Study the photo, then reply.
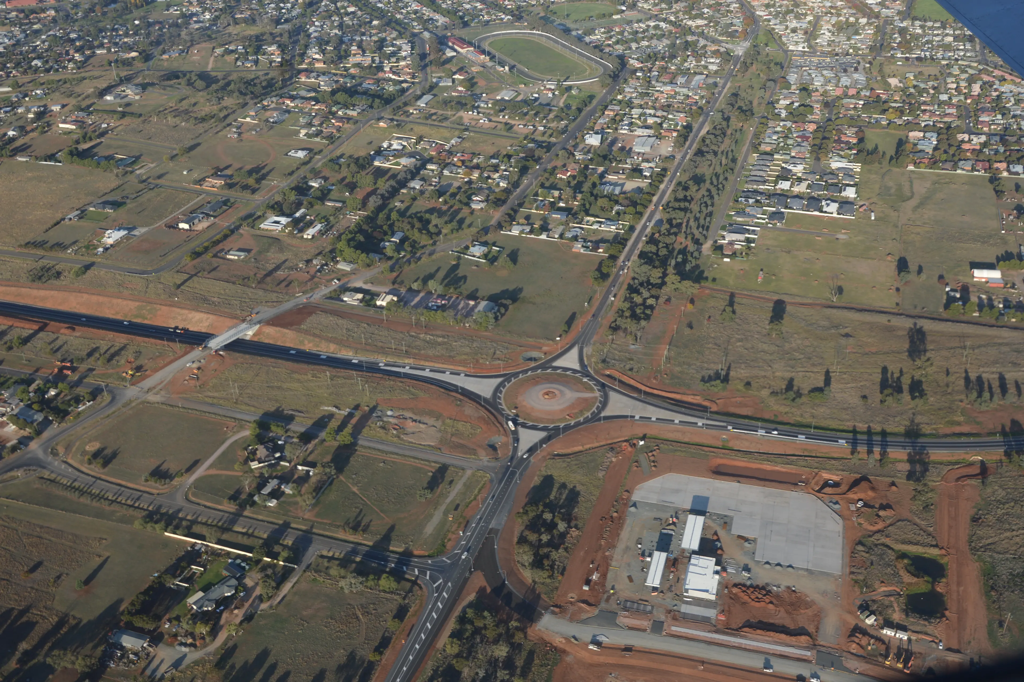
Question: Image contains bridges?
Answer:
Yes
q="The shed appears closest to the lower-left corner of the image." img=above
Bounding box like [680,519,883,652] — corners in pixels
[109,628,154,656]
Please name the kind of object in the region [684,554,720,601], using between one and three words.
building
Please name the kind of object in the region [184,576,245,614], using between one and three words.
house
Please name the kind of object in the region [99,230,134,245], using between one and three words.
house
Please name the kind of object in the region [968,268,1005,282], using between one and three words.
barn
